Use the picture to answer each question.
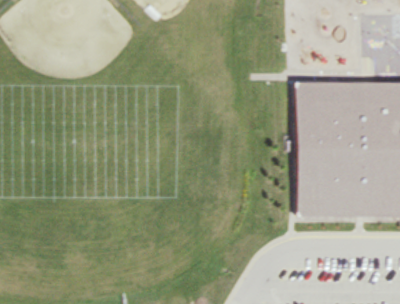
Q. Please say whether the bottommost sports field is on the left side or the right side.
left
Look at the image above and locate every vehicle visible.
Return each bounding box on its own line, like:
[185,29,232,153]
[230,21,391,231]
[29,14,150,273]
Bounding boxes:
[332,259,337,270]
[374,258,379,269]
[348,271,358,282]
[342,258,348,270]
[318,270,326,282]
[296,270,305,281]
[324,258,330,270]
[324,271,333,282]
[306,258,310,270]
[357,270,366,280]
[288,270,298,280]
[356,257,362,268]
[304,270,312,280]
[318,258,323,269]
[362,258,368,270]
[366,272,376,284]
[386,258,392,269]
[278,268,287,279]
[386,270,396,281]
[332,270,342,282]
[372,271,380,282]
